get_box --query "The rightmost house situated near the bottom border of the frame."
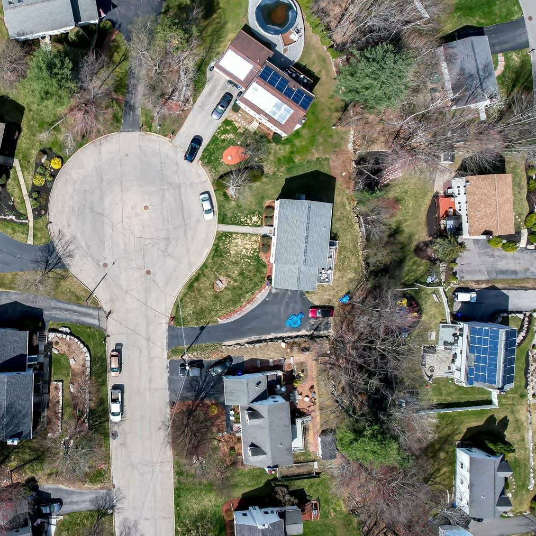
[453,449,518,523]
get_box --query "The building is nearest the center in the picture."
[264,199,341,292]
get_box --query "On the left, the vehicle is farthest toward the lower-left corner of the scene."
[36,502,64,517]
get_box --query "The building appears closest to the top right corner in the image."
[433,37,500,119]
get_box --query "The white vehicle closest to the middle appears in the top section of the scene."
[199,191,214,221]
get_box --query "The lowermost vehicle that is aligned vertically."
[110,387,124,420]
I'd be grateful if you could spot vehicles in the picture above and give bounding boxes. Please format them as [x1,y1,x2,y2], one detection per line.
[36,502,64,517]
[110,387,124,420]
[450,289,479,303]
[211,91,233,120]
[182,134,204,164]
[176,362,208,375]
[199,191,214,221]
[109,348,122,375]
[208,355,234,377]
[307,306,334,318]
